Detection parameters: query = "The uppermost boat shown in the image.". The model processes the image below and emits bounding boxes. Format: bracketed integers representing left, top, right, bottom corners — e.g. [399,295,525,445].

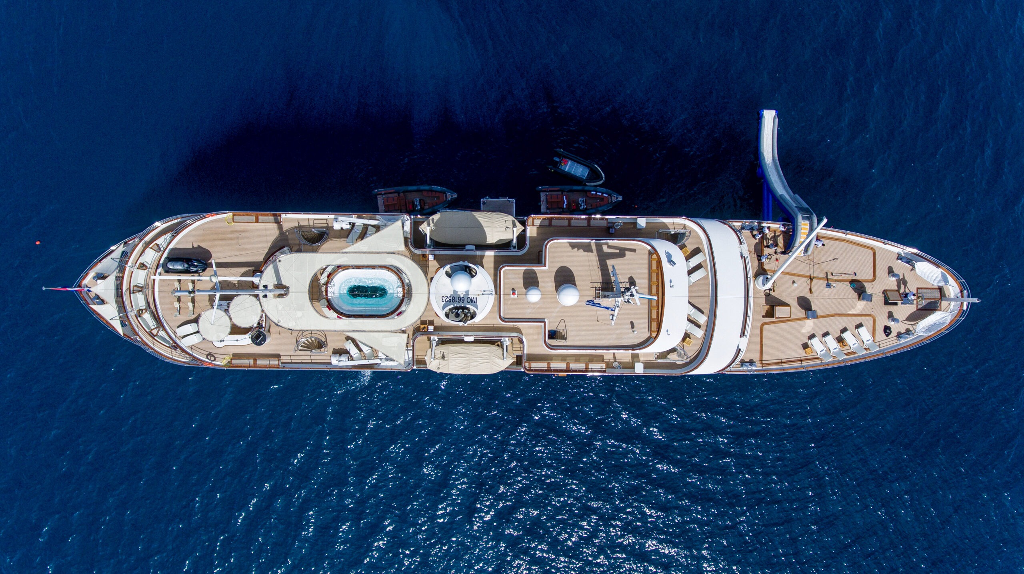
[544,149,607,183]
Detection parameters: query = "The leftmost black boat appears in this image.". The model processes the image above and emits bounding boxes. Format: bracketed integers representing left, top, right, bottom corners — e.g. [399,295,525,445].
[165,257,211,273]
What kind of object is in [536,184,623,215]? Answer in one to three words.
boat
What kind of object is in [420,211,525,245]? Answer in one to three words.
boat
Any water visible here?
Yes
